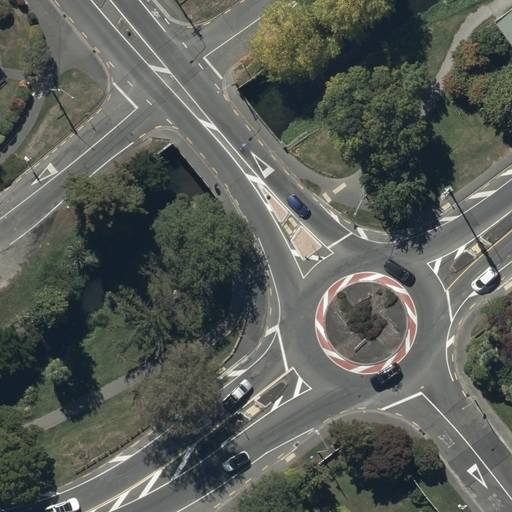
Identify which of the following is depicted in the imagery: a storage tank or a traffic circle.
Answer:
traffic circle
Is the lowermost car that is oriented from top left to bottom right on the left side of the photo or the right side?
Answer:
right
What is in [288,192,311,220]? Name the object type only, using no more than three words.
car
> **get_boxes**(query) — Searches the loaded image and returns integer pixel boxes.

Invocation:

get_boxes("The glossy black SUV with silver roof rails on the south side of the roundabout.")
[372,364,402,388]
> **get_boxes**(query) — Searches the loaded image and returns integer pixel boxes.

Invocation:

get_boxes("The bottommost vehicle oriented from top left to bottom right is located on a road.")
[384,259,415,286]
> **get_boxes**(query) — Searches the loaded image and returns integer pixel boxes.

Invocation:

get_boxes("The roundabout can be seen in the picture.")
[316,272,418,374]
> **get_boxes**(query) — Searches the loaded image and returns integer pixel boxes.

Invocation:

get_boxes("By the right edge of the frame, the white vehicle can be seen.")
[470,266,498,292]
